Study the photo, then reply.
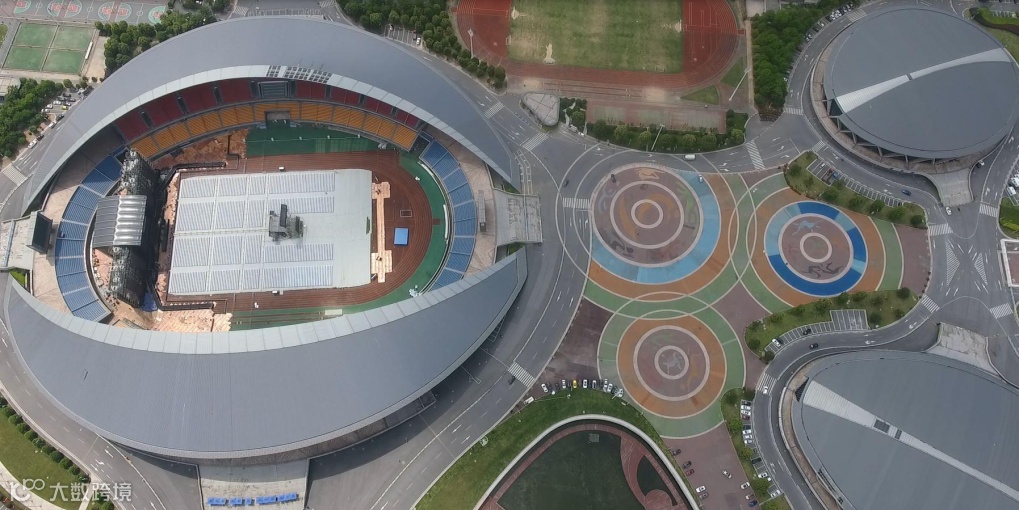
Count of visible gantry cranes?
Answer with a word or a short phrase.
none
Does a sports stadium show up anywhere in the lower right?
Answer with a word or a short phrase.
Yes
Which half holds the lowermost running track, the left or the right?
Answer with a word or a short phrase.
left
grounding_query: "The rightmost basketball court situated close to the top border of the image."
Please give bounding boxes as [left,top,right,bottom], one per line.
[113,0,164,25]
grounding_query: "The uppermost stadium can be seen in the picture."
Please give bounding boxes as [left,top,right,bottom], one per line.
[807,7,1019,209]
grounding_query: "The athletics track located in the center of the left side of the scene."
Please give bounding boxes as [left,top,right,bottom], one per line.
[84,123,449,330]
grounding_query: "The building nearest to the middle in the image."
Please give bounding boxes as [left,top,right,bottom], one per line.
[524,92,560,128]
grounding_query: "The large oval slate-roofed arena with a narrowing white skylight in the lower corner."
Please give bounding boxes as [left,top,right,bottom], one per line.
[777,323,1019,510]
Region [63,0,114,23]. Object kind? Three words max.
basketball court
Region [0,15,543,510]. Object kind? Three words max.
stadium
